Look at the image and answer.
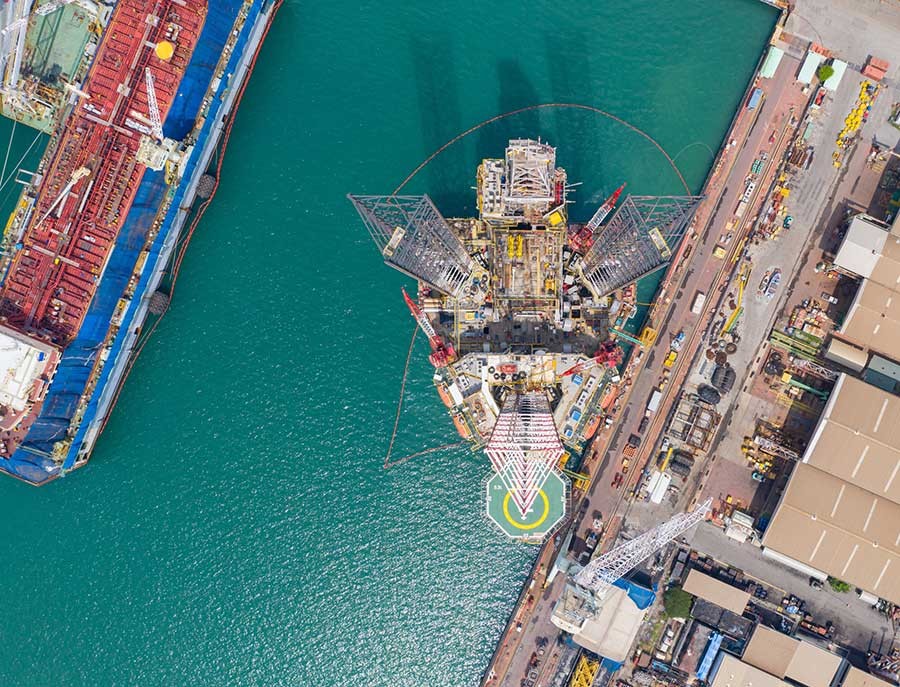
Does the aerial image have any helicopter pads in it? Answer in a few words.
Yes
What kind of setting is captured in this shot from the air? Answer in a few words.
port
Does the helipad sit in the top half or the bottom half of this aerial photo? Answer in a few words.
bottom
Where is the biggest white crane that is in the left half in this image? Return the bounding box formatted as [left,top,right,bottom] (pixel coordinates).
[138,69,195,189]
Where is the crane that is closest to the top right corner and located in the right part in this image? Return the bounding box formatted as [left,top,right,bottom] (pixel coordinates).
[568,182,628,255]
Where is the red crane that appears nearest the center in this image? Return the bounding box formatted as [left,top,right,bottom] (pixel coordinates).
[402,288,458,367]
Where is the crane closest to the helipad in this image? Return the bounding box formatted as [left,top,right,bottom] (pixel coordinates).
[541,501,710,640]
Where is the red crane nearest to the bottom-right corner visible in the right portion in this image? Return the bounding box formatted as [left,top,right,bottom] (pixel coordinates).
[560,340,628,377]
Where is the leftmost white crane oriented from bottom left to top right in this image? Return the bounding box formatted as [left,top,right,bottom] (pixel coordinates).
[36,164,98,227]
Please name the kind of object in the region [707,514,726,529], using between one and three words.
vehicle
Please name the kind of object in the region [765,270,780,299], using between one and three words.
boat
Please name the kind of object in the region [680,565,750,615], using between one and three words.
shed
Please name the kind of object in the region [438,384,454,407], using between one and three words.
boat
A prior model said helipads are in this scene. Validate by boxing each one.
[481,452,571,544]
